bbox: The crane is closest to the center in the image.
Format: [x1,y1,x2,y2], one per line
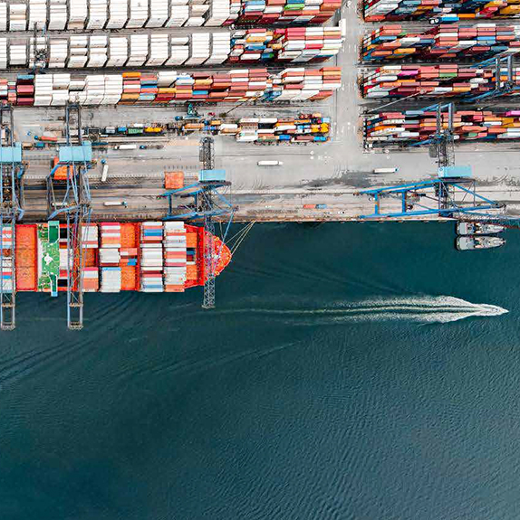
[152,112,242,309]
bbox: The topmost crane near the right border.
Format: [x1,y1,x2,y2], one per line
[451,48,510,103]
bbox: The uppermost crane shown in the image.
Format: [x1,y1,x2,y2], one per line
[28,15,49,71]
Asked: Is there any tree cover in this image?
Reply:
No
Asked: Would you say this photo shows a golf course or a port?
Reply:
port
